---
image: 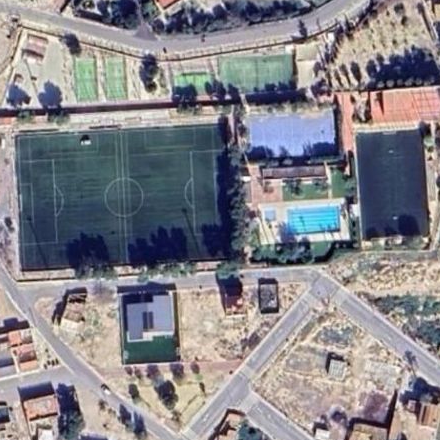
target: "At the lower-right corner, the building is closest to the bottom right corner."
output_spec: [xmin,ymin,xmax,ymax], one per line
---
[407,401,440,429]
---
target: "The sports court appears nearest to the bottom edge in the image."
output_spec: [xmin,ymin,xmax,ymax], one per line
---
[248,110,337,158]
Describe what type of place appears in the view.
sports ground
